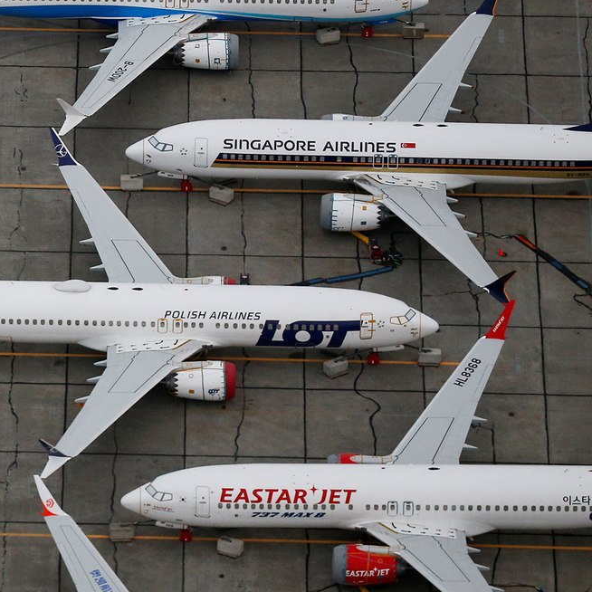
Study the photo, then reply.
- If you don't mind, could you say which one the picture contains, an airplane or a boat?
airplane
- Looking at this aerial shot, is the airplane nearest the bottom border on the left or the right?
left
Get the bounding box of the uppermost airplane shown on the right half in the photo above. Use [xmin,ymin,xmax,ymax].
[127,0,592,306]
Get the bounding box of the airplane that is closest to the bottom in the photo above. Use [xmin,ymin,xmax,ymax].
[32,474,123,592]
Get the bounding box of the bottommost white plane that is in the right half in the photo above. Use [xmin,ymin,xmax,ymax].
[120,299,592,592]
